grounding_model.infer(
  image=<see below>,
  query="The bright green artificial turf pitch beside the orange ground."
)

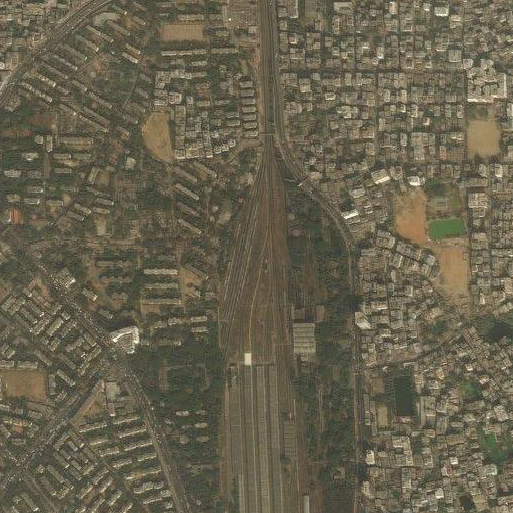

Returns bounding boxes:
[428,217,467,240]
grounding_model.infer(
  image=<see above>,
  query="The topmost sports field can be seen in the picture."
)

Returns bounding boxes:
[162,25,205,42]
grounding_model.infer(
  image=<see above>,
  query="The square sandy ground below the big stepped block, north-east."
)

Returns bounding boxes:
[467,119,501,157]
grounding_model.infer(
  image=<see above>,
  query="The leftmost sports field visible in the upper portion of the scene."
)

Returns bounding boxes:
[141,111,174,163]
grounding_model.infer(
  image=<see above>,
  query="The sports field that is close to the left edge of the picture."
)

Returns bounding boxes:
[4,370,47,402]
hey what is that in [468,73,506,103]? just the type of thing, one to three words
building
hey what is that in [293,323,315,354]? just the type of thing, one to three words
building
